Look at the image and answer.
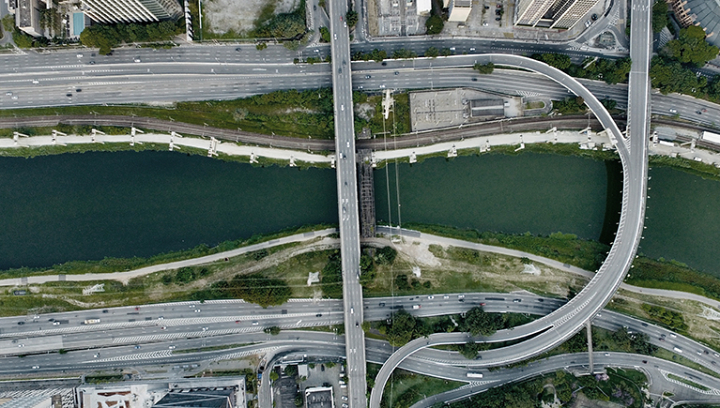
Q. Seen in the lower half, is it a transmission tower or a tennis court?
transmission tower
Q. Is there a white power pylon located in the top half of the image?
Yes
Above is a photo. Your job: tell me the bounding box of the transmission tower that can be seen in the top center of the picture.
[380,90,400,119]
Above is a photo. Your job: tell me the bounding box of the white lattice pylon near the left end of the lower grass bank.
[80,281,106,297]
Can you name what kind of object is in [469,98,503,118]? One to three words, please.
building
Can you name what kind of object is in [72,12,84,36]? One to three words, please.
swimming pool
